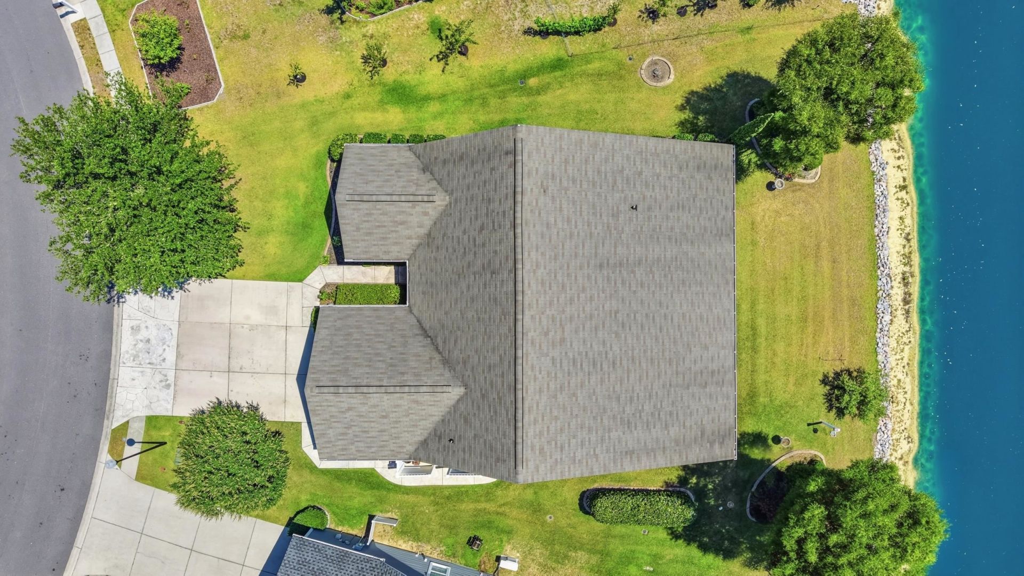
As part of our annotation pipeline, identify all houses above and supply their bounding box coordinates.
[275,529,494,576]
[304,124,737,483]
